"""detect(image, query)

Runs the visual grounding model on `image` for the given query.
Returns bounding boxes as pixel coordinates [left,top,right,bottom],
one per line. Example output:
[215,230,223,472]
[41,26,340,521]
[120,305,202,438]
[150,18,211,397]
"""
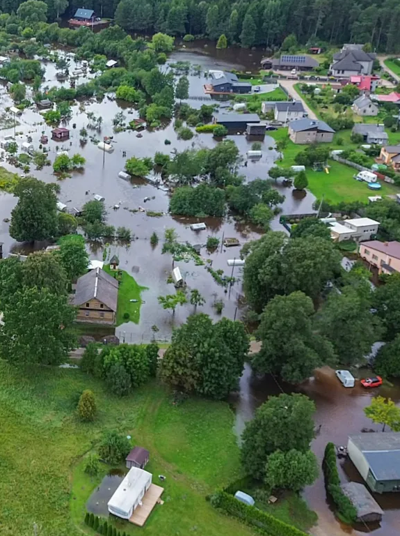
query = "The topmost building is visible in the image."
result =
[75,7,110,36]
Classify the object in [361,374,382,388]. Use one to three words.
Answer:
vehicle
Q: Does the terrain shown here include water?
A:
Yes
